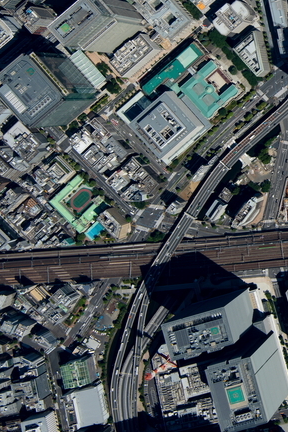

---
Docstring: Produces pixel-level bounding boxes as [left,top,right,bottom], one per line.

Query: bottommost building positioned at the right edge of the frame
[206,332,288,432]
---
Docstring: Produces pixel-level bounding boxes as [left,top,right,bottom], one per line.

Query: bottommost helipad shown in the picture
[227,389,243,405]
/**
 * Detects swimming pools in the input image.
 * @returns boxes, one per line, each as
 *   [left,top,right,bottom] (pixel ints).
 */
[84,222,104,240]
